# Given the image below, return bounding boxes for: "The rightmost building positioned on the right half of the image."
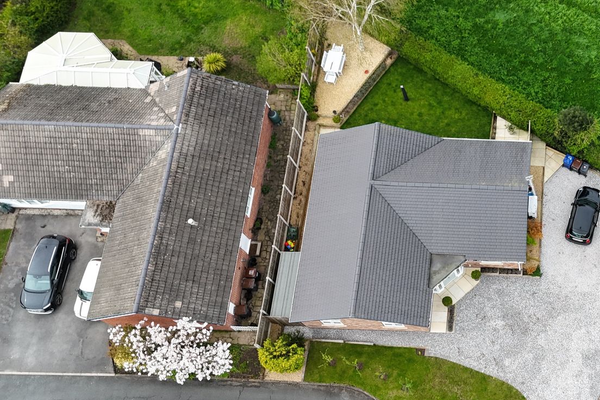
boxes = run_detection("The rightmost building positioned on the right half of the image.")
[289,121,532,334]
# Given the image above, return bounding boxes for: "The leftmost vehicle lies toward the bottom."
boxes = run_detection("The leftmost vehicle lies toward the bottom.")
[23,236,81,315]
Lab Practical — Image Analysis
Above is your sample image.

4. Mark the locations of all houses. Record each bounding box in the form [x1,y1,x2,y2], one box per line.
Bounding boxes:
[289,121,532,334]
[0,67,275,332]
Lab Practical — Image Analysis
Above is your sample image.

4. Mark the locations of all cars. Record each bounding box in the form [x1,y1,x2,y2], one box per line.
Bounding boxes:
[69,256,101,321]
[564,187,600,249]
[23,236,81,315]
